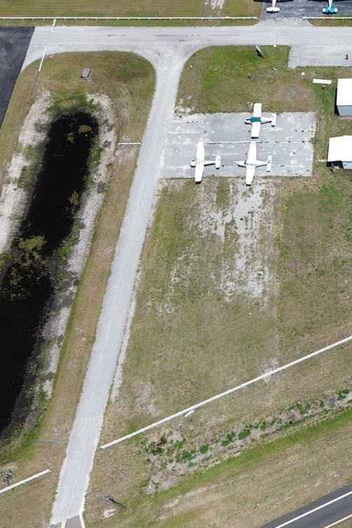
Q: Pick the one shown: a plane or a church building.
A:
plane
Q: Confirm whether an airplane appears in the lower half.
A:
No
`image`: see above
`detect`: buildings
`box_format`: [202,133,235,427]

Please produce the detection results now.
[338,78,352,115]
[328,136,352,168]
